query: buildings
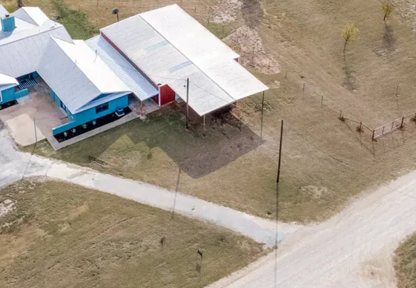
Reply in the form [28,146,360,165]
[0,4,133,135]
[100,4,269,134]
